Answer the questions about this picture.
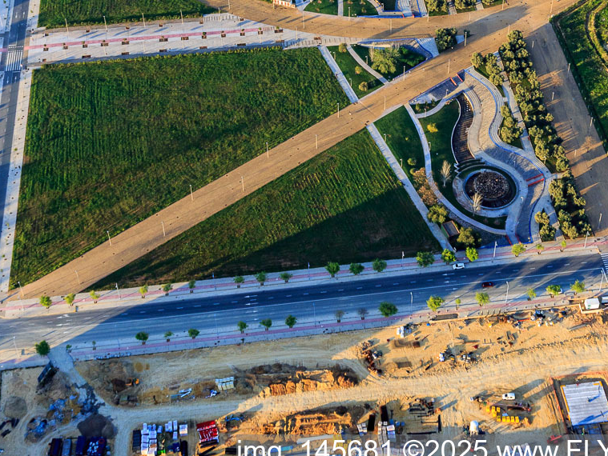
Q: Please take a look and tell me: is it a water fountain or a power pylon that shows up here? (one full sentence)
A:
Looking from above, you can make out a water fountain.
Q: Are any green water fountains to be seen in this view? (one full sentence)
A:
No, this view has no green water fountain in it.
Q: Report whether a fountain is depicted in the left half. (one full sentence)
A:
No, there is no fountain in the left half.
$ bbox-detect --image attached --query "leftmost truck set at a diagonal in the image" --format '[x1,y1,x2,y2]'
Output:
[35,359,58,385]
